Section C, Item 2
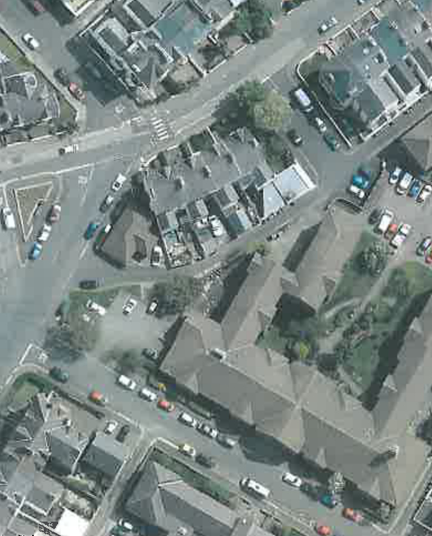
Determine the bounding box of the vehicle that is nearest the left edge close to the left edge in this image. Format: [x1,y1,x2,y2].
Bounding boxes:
[1,206,15,231]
